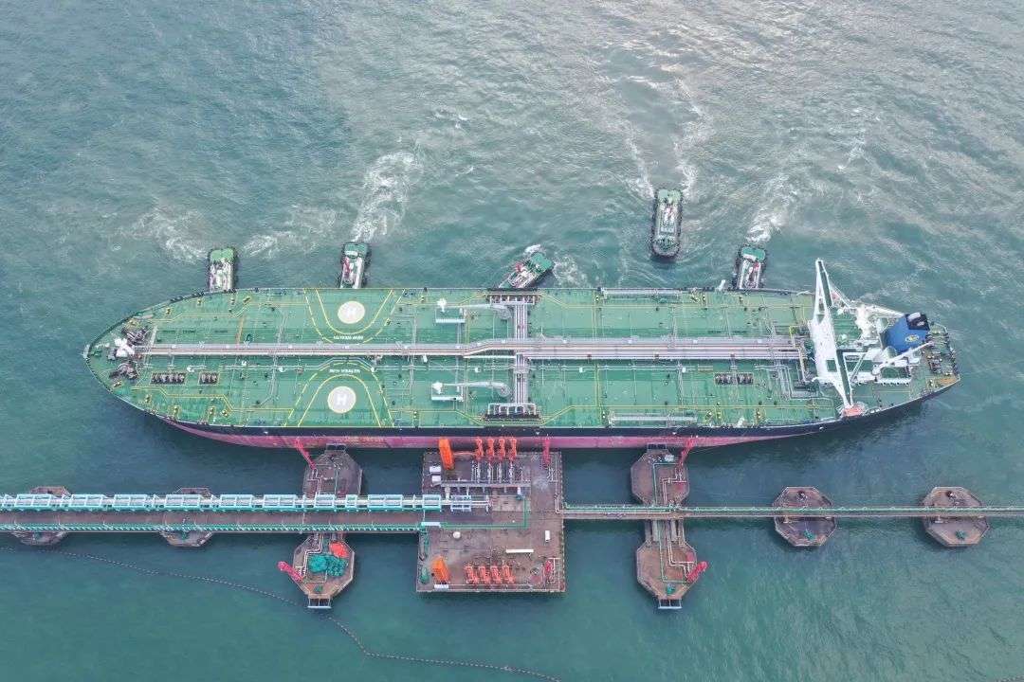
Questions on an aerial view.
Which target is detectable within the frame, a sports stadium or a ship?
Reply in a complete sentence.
I can see a ship in this picture.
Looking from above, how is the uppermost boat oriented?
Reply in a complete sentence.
What the image shows is the uppermost boat lying up and down.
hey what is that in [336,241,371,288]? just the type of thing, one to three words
boat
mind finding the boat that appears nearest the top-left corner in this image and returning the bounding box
[204,248,238,291]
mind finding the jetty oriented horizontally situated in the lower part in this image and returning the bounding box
[0,494,430,535]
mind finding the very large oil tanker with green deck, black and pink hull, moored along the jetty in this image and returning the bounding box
[79,257,961,450]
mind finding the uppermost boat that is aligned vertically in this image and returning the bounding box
[649,188,683,259]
